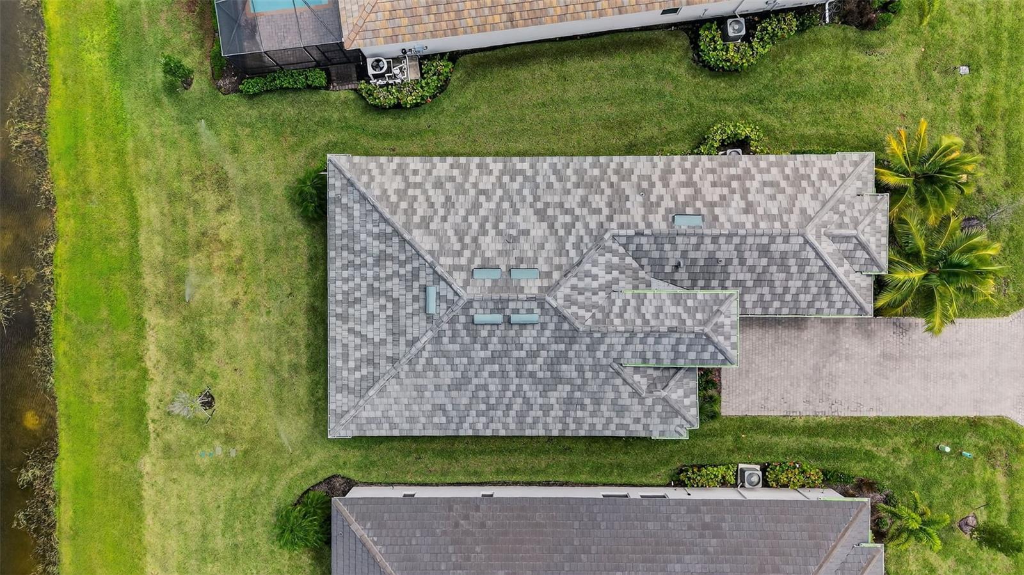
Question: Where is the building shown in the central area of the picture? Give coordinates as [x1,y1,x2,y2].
[318,152,891,441]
